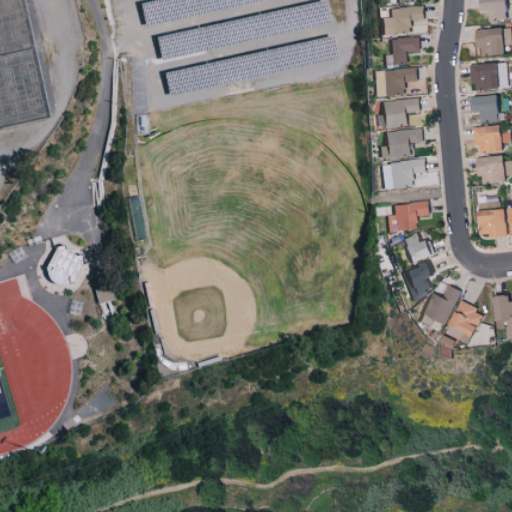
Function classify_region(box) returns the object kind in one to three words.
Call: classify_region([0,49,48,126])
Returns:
tennis court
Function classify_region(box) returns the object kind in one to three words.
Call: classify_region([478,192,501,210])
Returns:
house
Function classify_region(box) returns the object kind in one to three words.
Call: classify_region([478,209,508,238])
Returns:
house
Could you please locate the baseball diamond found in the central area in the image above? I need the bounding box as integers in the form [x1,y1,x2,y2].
[139,119,367,366]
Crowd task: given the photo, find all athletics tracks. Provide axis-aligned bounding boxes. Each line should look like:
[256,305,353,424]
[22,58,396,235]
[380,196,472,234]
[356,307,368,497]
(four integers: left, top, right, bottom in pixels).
[0,279,74,454]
